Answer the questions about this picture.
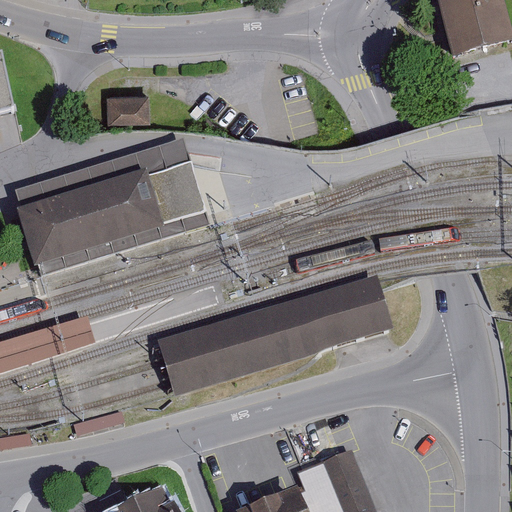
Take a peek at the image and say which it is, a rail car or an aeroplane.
rail car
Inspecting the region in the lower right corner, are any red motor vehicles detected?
Yes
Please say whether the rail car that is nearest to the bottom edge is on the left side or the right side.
left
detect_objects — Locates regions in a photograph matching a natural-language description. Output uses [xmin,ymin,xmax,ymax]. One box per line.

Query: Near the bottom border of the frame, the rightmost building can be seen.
[298,450,376,512]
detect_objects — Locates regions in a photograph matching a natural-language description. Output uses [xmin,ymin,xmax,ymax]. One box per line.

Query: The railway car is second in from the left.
[294,242,376,274]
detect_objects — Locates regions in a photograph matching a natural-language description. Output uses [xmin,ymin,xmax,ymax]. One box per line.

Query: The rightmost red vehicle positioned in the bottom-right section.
[416,434,436,456]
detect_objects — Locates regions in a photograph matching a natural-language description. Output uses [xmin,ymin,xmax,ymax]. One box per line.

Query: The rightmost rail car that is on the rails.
[377,226,460,254]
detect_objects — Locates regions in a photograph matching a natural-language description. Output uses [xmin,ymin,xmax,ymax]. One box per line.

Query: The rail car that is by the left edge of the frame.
[0,298,49,324]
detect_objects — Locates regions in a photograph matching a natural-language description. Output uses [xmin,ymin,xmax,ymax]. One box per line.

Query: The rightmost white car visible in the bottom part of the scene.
[395,418,410,440]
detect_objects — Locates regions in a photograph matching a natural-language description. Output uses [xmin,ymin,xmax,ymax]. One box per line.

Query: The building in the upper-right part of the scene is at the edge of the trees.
[438,0,512,56]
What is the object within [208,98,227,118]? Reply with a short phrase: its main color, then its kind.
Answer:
black car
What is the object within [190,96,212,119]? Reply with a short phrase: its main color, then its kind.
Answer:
white vehicle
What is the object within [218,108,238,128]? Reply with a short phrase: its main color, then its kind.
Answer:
white car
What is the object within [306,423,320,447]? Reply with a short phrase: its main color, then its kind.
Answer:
white vehicle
